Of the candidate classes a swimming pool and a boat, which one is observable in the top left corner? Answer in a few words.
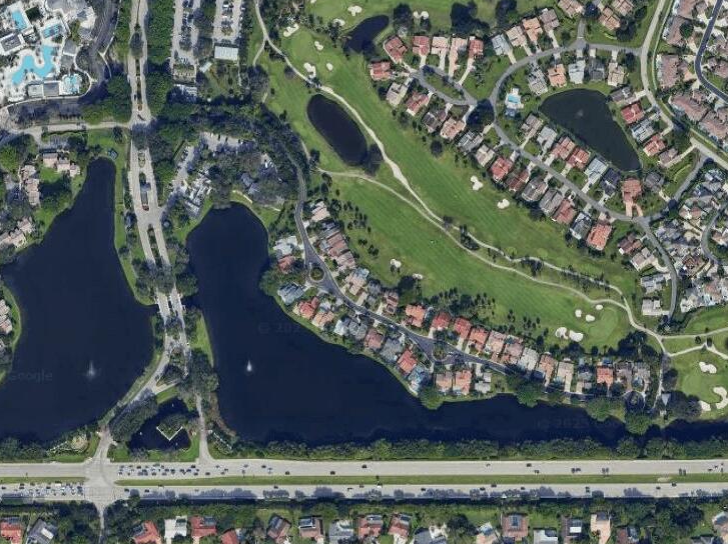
swimming pool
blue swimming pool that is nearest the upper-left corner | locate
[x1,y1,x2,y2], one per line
[10,10,28,31]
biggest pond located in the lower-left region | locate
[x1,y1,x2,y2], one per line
[129,397,193,450]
